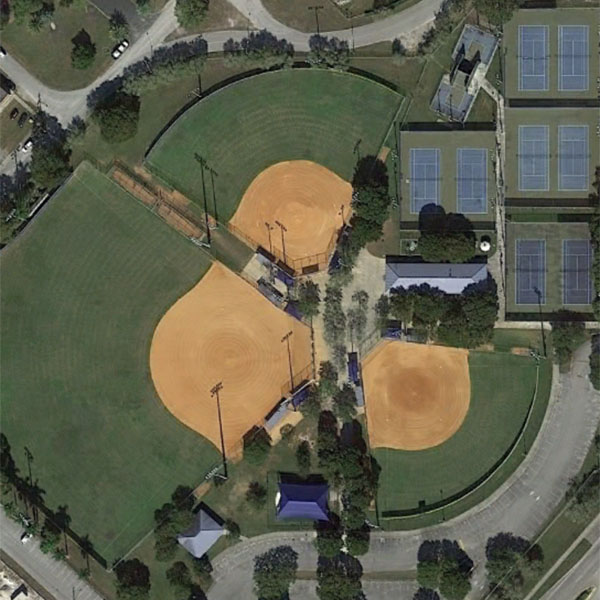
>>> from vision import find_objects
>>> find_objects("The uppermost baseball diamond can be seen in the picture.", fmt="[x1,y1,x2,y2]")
[147,69,404,276]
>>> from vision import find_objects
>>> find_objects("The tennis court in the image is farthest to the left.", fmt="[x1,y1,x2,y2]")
[400,131,448,229]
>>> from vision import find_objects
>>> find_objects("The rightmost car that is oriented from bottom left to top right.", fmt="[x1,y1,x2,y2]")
[114,41,128,55]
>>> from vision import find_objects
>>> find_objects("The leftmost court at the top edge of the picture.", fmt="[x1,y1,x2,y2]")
[430,23,499,122]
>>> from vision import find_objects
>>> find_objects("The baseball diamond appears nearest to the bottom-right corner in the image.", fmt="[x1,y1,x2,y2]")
[363,341,538,517]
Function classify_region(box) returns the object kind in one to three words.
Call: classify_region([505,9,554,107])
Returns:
tennis court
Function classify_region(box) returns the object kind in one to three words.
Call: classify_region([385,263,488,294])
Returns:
building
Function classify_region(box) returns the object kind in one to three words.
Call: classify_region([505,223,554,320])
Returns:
tennis court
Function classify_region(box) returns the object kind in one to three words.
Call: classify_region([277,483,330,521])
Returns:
building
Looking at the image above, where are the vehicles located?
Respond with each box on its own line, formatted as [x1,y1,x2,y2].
[335,0,349,6]
[22,139,35,152]
[21,534,32,543]
[0,48,8,58]
[10,107,19,120]
[114,41,128,55]
[19,113,28,126]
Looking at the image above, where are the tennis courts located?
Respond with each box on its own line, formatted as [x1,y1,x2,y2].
[505,223,554,320]
[554,108,600,206]
[554,223,596,321]
[554,9,600,107]
[448,131,496,229]
[505,9,554,107]
[400,131,448,229]
[505,108,554,206]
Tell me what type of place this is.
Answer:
sports ground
